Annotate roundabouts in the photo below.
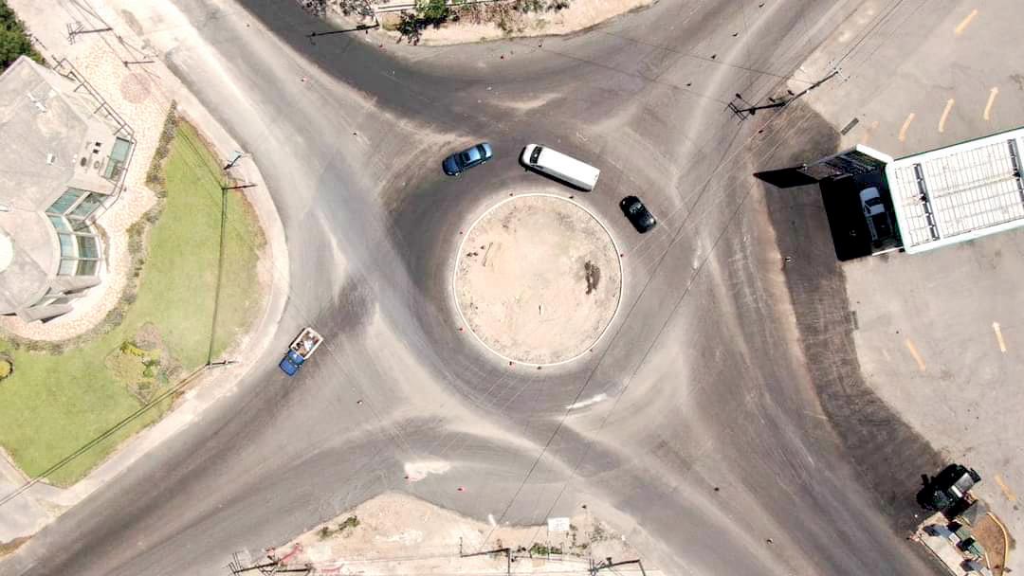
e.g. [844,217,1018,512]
[394,136,682,424]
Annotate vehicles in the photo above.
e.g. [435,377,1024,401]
[914,463,979,520]
[854,184,888,242]
[620,193,661,236]
[522,142,599,193]
[275,324,327,377]
[441,140,494,175]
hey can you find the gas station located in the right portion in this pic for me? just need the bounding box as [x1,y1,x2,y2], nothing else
[790,0,1024,576]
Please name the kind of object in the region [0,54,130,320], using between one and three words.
building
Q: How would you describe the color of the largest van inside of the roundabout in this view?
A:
white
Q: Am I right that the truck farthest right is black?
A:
Yes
